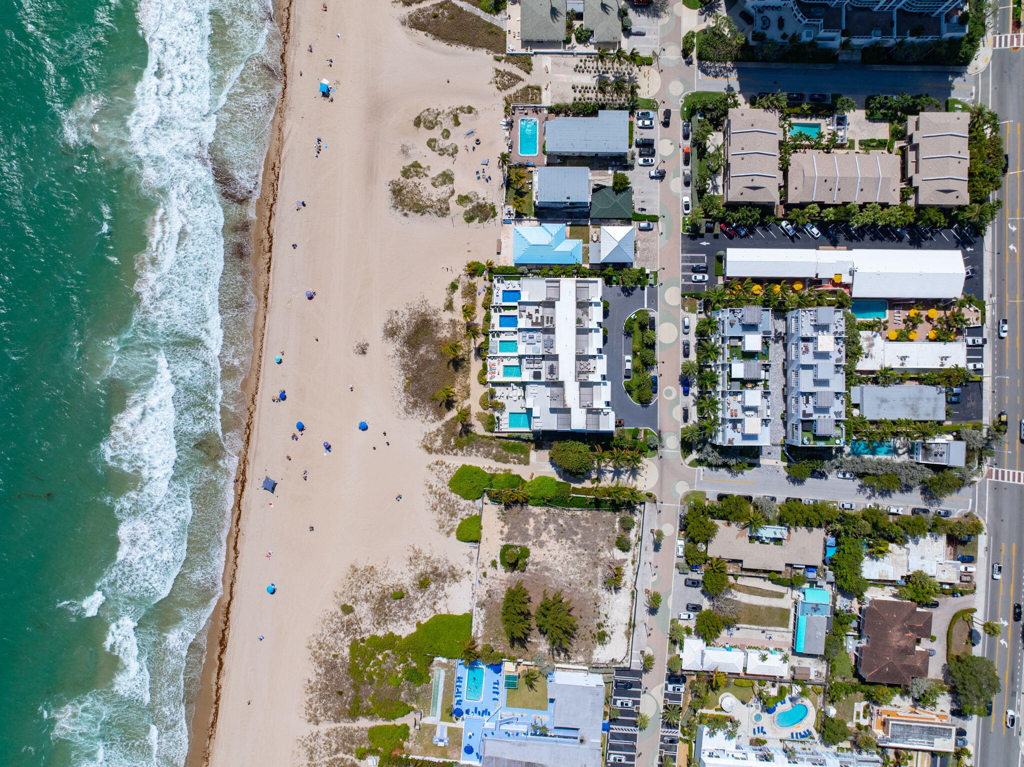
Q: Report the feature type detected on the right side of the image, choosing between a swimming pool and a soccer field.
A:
swimming pool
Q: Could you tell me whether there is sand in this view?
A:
Yes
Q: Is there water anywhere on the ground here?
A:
Yes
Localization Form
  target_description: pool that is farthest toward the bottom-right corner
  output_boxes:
[774,702,810,730]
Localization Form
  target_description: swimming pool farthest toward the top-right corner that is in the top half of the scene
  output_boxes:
[787,121,823,140]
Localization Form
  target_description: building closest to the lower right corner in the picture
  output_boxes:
[866,702,956,753]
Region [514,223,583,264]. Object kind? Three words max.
house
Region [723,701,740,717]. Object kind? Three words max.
gazebo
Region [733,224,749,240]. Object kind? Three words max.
car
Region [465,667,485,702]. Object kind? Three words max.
swimming pool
